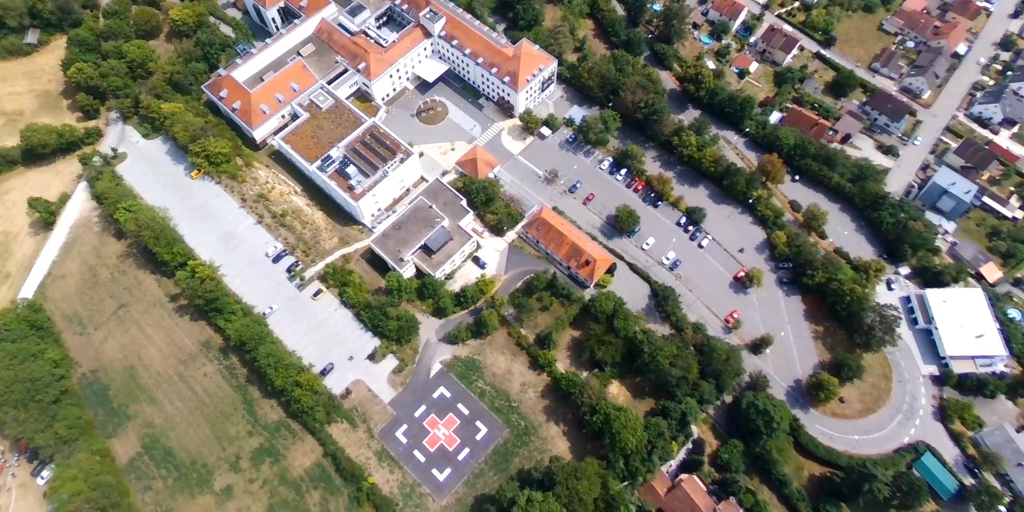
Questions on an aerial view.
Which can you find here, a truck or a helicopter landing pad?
helicopter landing pad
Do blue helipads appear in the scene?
No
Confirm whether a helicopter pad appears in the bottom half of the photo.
Yes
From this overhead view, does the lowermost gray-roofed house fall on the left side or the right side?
right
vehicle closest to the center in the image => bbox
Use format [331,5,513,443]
[470,253,489,270]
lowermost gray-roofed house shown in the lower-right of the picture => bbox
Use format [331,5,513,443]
[969,415,1024,504]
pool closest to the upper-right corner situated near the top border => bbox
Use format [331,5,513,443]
[735,25,753,39]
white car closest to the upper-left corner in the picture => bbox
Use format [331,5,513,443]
[264,243,284,257]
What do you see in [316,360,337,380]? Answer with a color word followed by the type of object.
gray car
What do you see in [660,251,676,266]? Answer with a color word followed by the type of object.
white car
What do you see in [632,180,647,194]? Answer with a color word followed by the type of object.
red car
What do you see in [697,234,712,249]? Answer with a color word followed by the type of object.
white car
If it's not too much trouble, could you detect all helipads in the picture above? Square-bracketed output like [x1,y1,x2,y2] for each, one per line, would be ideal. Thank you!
[376,363,508,503]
